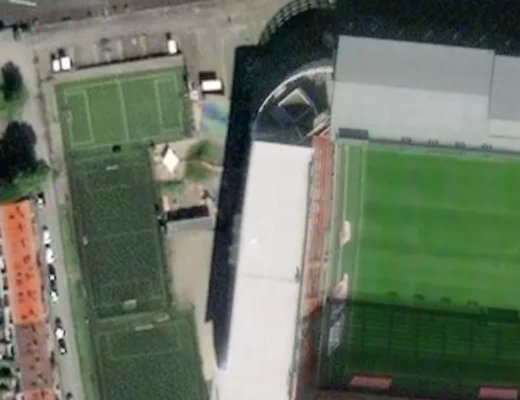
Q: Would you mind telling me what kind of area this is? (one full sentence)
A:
The area seen from above is a sports ground.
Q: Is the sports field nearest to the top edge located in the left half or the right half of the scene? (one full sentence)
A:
You can find the sports field nearest to the top edge on the left side of the picture.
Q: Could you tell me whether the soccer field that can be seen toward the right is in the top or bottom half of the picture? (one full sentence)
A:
The soccer field that can be seen toward the right sits in the bottom half of the picture.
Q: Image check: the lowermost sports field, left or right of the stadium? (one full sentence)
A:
Compared with the stadium, the lowermost sports field is located further to the left.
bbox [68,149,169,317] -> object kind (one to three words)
sports field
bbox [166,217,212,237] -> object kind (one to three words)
building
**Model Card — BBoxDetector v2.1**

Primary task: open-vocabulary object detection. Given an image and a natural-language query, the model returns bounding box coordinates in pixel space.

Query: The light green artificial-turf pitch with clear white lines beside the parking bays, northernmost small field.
[57,67,191,152]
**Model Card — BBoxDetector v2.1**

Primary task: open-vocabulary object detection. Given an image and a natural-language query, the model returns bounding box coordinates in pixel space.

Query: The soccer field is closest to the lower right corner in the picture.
[318,140,520,391]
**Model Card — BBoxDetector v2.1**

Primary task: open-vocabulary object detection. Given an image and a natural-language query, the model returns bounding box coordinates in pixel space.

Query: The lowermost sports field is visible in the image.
[92,310,208,400]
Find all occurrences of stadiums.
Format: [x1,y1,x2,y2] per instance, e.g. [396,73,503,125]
[213,29,520,400]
